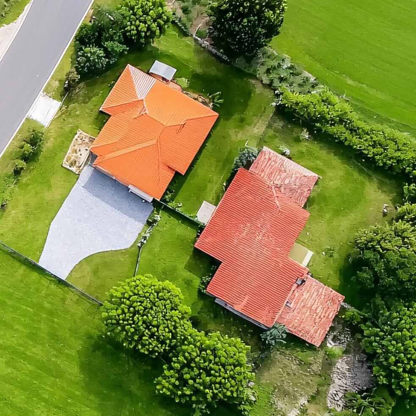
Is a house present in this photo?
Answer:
Yes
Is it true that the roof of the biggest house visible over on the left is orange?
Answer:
Yes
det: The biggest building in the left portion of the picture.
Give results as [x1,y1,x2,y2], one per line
[89,64,219,201]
